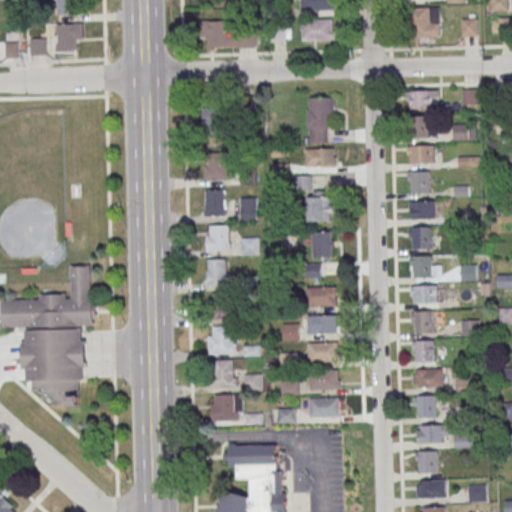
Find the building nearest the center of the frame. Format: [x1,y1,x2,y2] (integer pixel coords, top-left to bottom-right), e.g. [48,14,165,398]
[240,236,260,256]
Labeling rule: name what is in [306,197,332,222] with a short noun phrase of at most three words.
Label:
house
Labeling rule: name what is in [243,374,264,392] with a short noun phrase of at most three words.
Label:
building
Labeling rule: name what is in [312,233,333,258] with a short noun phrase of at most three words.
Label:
house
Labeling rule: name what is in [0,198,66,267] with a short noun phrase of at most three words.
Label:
baseball field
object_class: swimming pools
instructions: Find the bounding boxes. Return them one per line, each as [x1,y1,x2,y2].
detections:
[478,260,491,272]
[460,289,472,301]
